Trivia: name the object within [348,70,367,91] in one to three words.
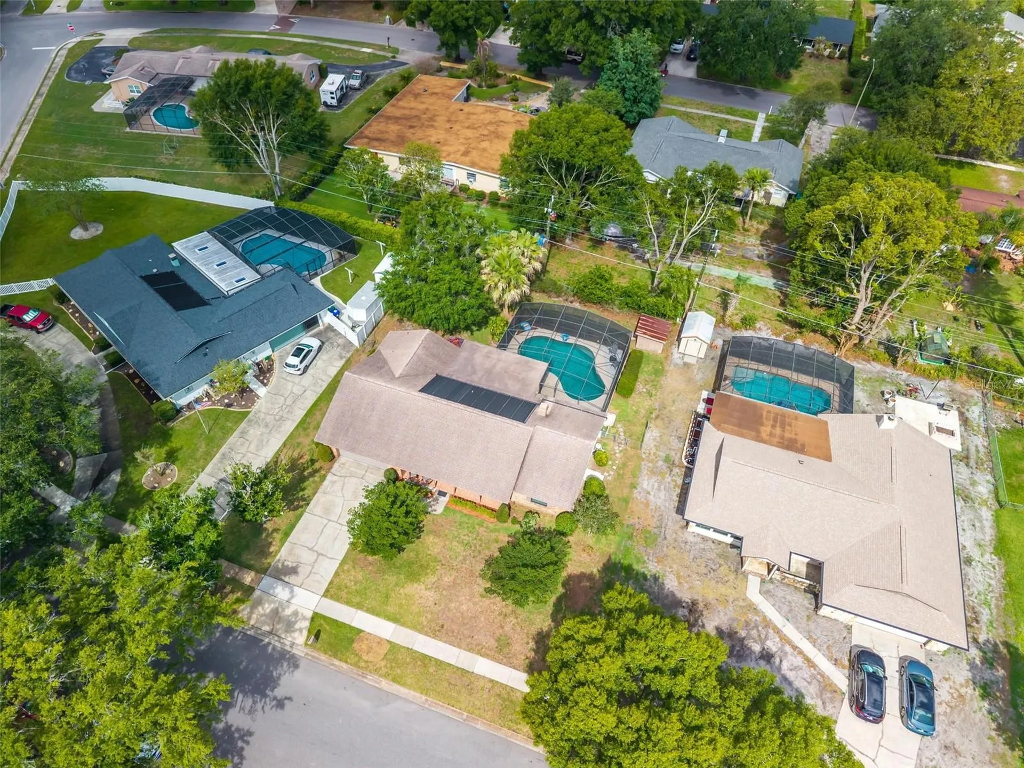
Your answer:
car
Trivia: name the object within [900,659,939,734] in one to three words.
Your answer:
car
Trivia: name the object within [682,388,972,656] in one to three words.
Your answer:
house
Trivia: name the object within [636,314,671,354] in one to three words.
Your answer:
shed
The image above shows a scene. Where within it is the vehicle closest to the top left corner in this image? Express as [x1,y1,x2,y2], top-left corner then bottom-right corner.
[93,62,121,78]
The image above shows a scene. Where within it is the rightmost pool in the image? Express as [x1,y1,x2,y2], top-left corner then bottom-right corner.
[730,367,834,416]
